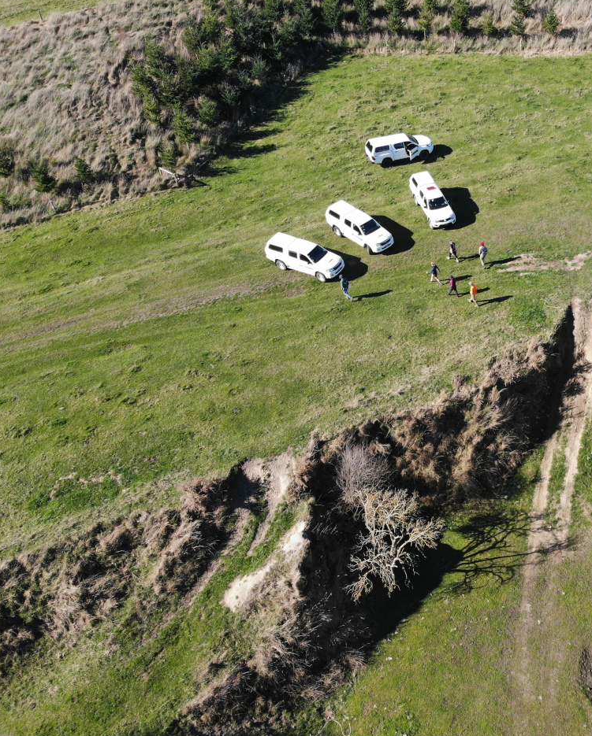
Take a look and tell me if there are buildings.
No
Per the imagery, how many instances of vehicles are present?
4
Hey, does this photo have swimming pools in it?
No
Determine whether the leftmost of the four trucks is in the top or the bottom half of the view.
top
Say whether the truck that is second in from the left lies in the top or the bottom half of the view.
top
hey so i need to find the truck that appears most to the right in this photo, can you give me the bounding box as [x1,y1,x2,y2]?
[408,172,458,228]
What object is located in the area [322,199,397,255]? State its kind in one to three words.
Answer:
truck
